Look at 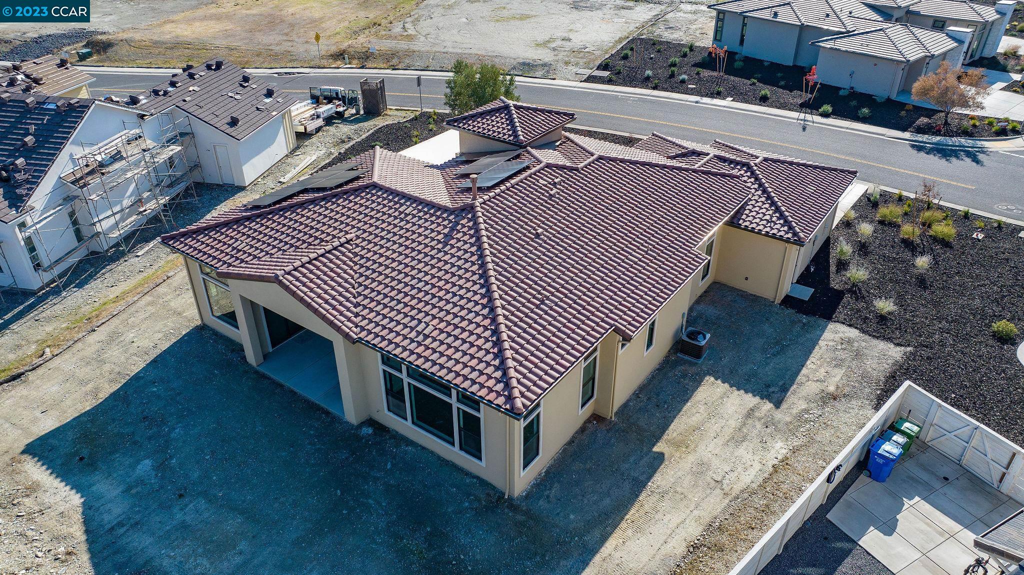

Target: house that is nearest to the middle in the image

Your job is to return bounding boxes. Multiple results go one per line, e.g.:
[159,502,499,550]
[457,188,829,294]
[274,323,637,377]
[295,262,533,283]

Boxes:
[157,94,862,496]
